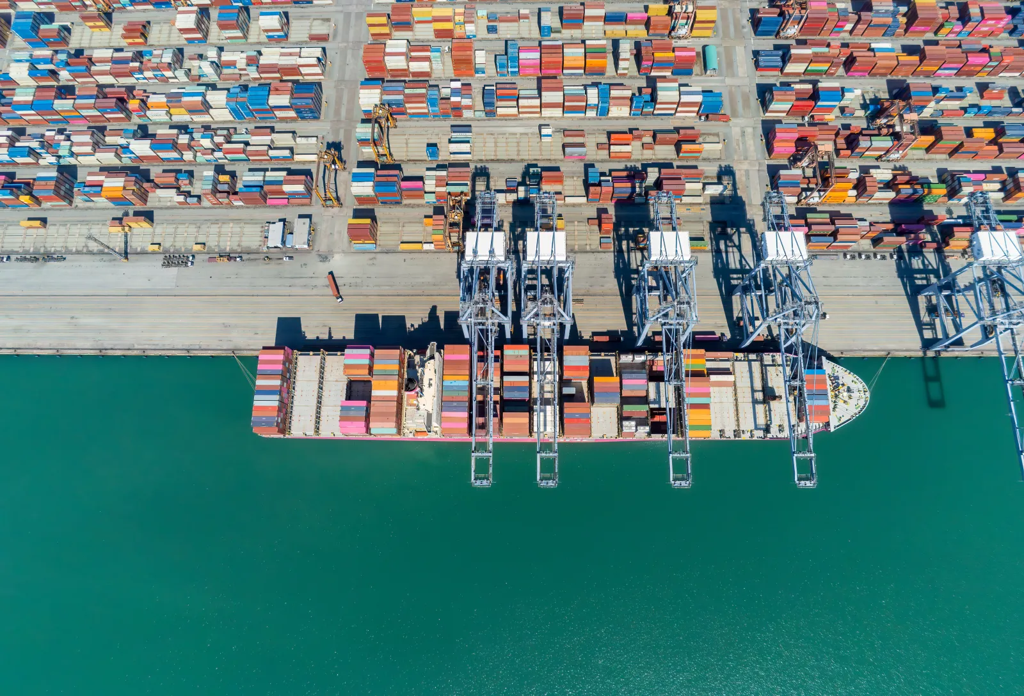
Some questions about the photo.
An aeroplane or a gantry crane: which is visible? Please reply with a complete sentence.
The image shows a gantry crane.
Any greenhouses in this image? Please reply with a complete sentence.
No, the photo shows no greenhouse.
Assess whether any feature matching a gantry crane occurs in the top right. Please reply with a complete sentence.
Yes, a gantry crane appears in the top right.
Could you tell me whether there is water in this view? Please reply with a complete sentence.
Yes, water shows up in the scene.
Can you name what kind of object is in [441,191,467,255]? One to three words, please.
container crane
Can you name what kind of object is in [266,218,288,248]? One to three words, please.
building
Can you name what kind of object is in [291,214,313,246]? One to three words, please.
building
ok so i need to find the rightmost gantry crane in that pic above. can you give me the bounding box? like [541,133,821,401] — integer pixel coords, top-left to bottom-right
[912,184,1024,472]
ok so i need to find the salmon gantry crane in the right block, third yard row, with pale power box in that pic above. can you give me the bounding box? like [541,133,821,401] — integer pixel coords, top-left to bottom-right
[883,97,932,162]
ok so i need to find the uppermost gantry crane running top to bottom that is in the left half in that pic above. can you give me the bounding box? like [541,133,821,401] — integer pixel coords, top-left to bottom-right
[371,101,399,164]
